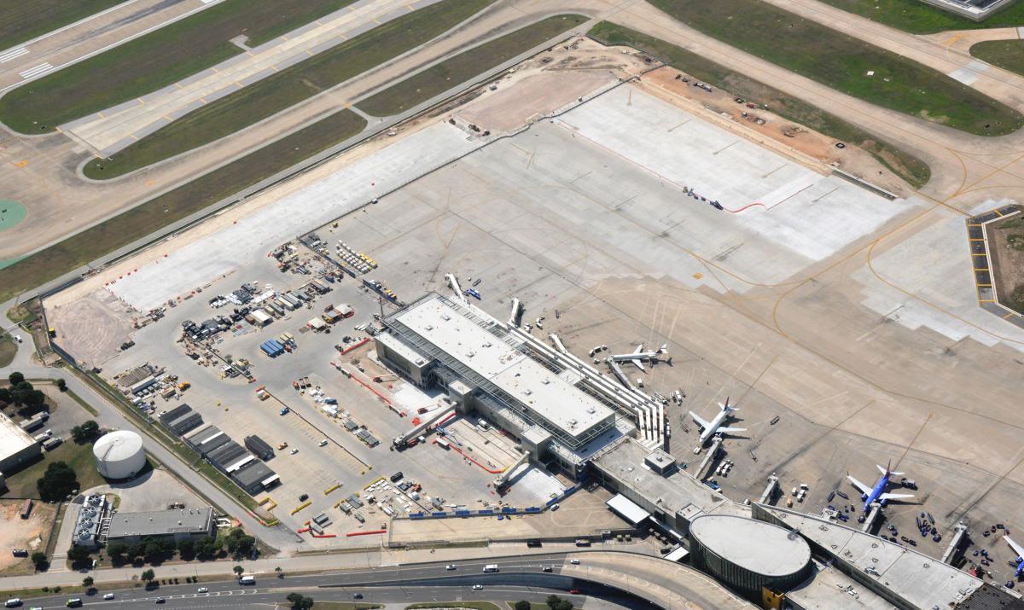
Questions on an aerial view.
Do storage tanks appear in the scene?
Yes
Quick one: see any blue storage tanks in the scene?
No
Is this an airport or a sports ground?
airport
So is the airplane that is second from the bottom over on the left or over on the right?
right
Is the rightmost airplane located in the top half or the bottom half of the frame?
bottom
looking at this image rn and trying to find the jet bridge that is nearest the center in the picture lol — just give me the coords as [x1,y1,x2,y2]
[506,299,521,325]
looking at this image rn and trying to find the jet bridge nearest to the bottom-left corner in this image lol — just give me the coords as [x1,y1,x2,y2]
[394,400,460,448]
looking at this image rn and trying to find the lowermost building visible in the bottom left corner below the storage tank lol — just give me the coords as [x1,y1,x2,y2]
[108,507,217,544]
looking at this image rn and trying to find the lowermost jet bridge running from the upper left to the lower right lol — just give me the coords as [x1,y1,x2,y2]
[605,359,633,391]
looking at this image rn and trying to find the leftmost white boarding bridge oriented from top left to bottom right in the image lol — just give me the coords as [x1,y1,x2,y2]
[445,275,471,307]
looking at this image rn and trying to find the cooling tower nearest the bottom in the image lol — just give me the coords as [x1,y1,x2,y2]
[71,495,109,551]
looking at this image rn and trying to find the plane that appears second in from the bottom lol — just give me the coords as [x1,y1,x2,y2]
[848,460,916,512]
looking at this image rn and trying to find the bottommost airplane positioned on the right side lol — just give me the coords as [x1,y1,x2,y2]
[998,529,1024,576]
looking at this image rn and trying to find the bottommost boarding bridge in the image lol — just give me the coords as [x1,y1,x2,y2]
[939,526,968,566]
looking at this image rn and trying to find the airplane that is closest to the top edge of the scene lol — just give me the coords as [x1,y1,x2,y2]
[604,337,669,368]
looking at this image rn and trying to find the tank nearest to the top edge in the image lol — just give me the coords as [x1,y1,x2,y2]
[92,429,146,481]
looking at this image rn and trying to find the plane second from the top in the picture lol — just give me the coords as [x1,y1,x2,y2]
[690,394,749,443]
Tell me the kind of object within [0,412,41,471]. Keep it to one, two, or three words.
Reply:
building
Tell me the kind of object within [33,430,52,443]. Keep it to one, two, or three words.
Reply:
vehicle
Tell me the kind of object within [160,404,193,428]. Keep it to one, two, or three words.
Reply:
building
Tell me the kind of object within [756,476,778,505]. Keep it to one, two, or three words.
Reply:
jet bridge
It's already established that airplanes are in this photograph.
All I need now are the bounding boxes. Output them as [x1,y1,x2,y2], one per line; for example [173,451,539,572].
[848,460,916,512]
[998,529,1024,576]
[604,337,669,368]
[690,394,749,443]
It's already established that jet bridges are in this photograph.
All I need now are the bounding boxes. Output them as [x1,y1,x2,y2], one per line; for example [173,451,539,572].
[506,299,521,325]
[605,359,633,391]
[394,400,460,448]
[494,450,531,487]
[939,526,968,566]
[692,440,720,480]
[859,504,881,534]
[756,476,778,505]
[445,275,471,307]
[549,332,568,355]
